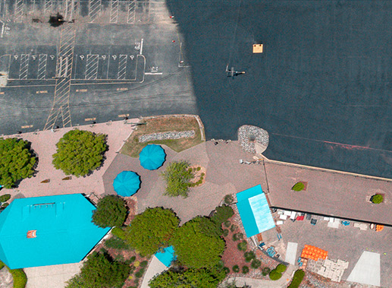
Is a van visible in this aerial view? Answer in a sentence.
No, no van is visible in the view.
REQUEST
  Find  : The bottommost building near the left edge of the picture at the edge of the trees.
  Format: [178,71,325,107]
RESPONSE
[0,193,112,269]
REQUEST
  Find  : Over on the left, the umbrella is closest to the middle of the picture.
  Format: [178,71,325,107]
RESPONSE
[140,143,167,170]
